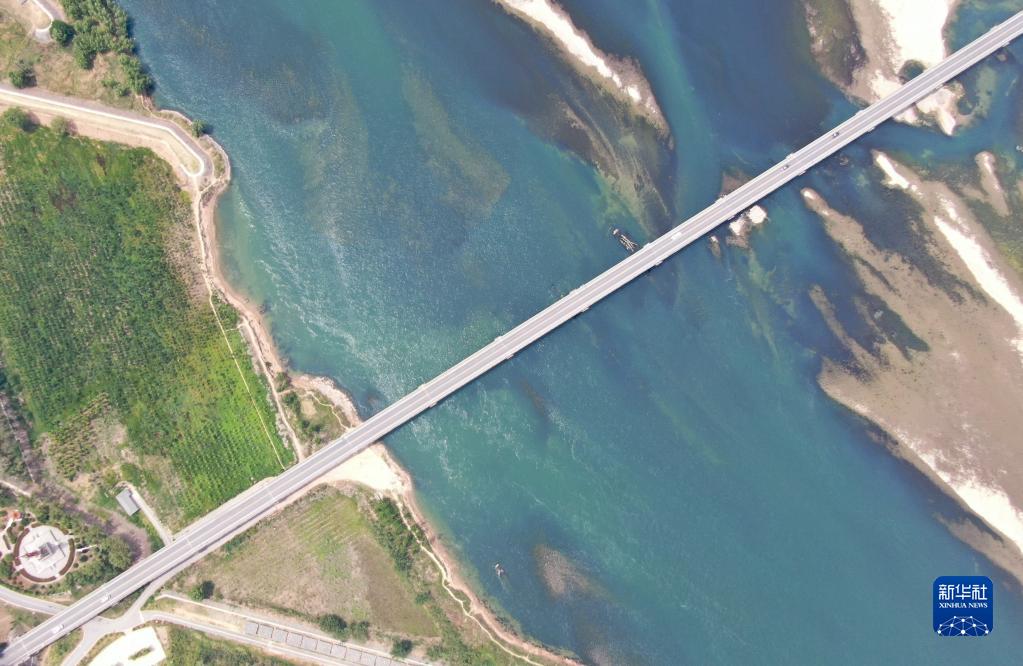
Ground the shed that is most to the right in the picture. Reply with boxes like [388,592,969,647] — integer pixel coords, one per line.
[117,488,143,516]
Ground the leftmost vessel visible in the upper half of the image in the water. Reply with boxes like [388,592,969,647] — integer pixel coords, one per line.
[611,227,635,251]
